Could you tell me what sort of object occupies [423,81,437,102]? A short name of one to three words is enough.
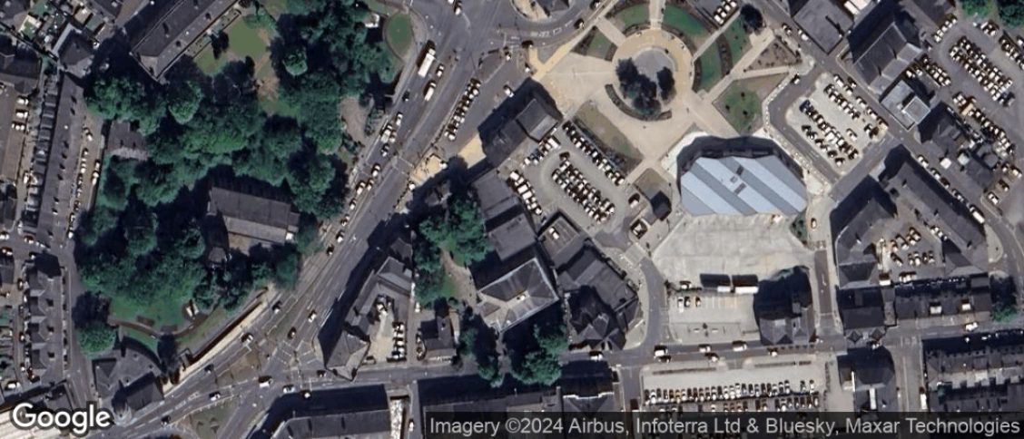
vehicle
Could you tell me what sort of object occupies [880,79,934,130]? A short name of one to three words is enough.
building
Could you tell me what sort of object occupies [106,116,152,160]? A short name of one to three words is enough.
house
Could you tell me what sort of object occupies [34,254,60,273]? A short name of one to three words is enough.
house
